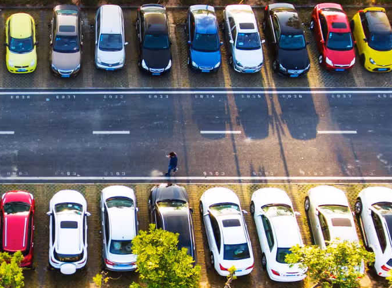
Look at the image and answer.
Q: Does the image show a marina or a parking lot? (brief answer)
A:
parking lot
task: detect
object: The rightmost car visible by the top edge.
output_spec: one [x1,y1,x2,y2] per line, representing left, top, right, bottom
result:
[349,11,392,74]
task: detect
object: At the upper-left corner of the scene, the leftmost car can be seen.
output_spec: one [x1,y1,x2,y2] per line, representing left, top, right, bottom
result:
[4,17,38,75]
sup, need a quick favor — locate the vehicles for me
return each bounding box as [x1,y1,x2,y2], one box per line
[153,186,201,278]
[134,10,173,76]
[95,186,139,273]
[47,5,84,78]
[349,11,392,74]
[308,4,357,73]
[222,4,266,75]
[181,5,223,74]
[305,186,366,282]
[205,187,257,279]
[44,189,89,273]
[355,186,392,279]
[262,4,310,79]
[252,188,308,284]
[4,17,38,75]
[0,189,39,272]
